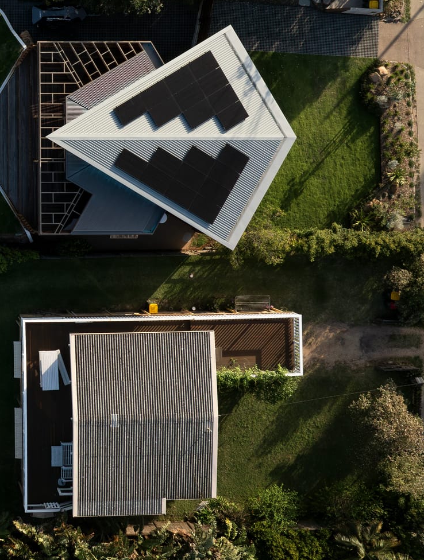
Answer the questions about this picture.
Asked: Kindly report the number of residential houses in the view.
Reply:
2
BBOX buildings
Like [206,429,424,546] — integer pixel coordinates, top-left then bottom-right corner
[30,26,296,249]
[13,307,303,518]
